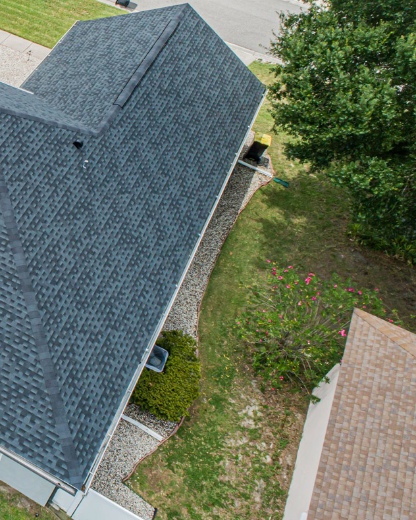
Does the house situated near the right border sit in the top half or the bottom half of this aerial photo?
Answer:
bottom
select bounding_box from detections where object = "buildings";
[0,2,270,506]
[282,307,416,520]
